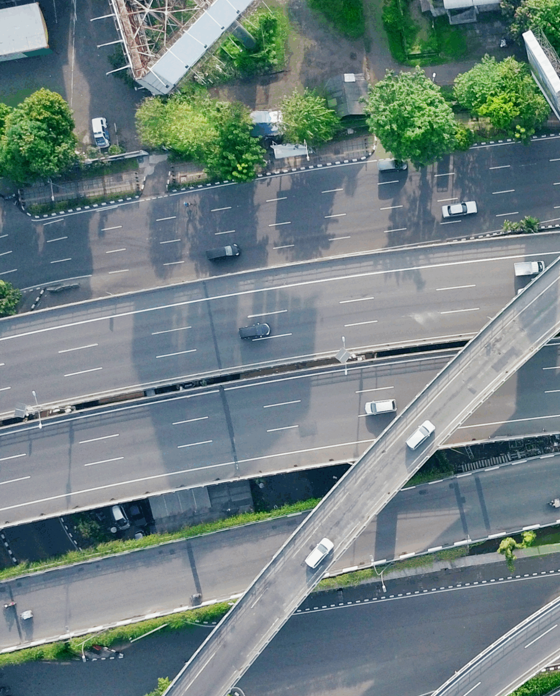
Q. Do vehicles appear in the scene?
Yes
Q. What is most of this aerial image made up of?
paved ground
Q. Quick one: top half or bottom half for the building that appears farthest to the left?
top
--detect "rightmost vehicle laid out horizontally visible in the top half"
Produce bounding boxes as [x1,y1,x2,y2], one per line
[513,259,545,276]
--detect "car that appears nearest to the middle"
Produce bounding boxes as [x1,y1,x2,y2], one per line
[237,322,271,341]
